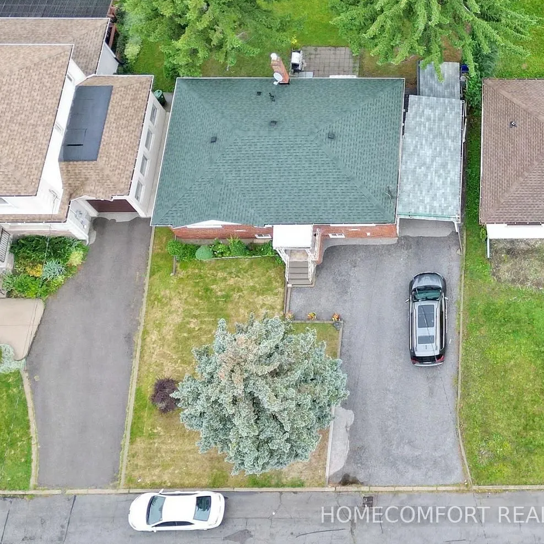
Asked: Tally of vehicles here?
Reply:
2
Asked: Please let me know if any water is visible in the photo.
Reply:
No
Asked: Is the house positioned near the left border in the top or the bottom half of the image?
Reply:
top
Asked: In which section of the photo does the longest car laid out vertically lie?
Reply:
right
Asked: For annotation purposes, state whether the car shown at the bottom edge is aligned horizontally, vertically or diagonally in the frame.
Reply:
horizontally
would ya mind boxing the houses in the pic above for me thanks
[0,16,166,245]
[151,60,407,240]
[479,77,544,255]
